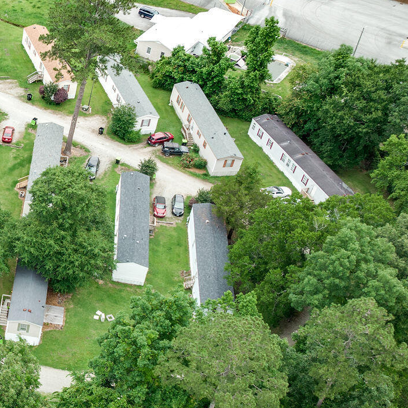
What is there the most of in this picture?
trees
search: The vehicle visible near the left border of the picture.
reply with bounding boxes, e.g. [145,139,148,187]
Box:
[2,123,16,139]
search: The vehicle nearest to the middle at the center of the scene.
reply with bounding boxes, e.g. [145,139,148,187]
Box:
[172,192,186,212]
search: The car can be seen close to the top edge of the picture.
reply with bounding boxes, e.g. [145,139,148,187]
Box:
[136,3,162,20]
